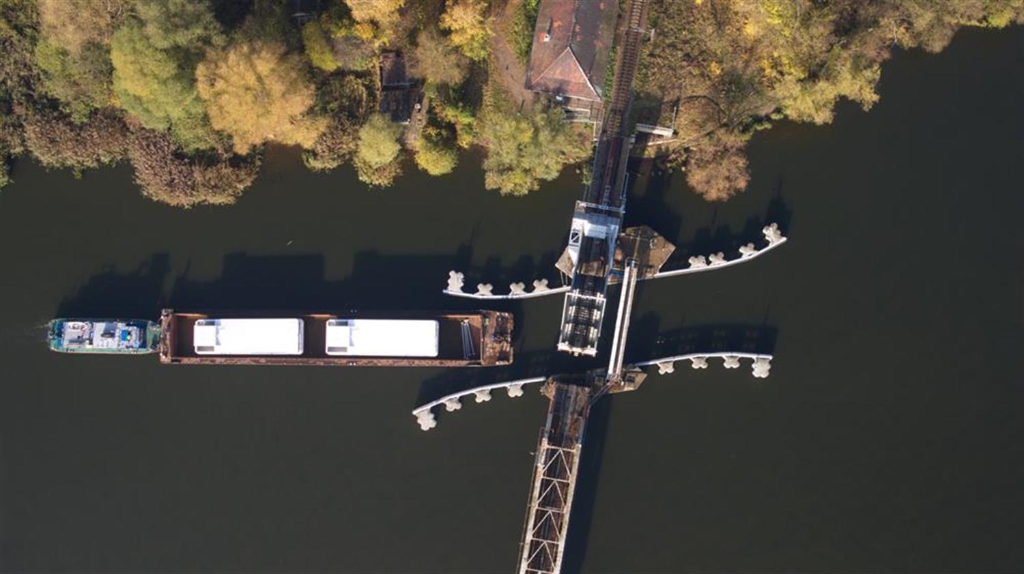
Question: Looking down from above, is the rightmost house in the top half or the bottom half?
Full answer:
Seen from above, the rightmost house lies in the top half of the view.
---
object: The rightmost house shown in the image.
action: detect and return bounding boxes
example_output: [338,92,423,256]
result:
[524,0,620,101]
